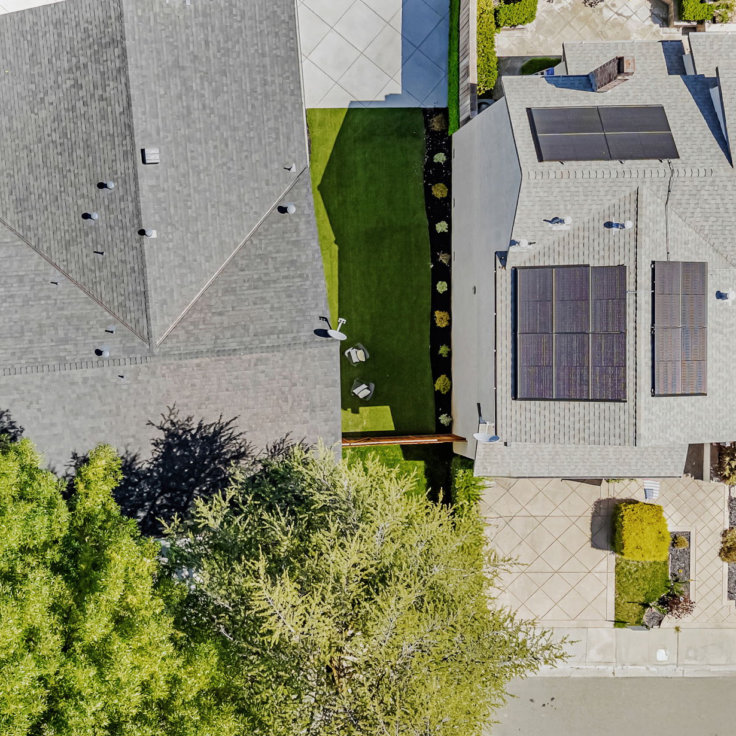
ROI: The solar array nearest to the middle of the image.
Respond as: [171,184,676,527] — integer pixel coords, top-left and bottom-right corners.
[513,267,627,407]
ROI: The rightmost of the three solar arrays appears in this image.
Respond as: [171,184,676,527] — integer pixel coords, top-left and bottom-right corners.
[649,261,707,395]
